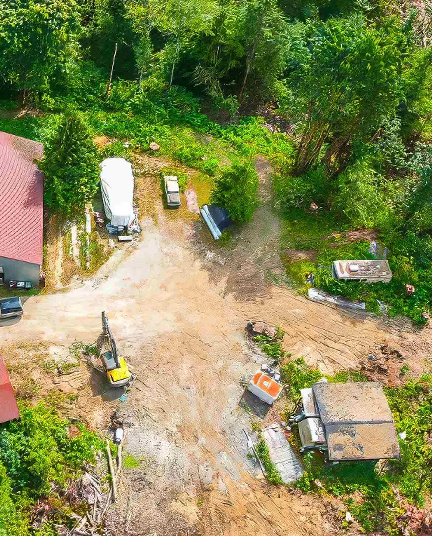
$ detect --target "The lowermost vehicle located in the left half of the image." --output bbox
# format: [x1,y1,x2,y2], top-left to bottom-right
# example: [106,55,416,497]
[99,309,151,414]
